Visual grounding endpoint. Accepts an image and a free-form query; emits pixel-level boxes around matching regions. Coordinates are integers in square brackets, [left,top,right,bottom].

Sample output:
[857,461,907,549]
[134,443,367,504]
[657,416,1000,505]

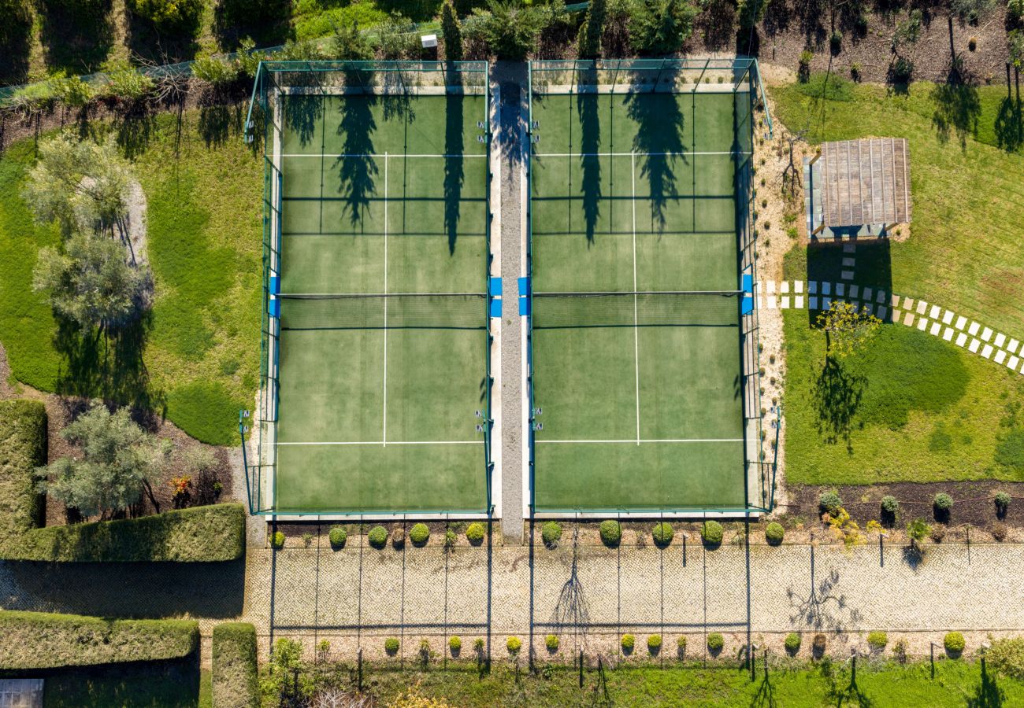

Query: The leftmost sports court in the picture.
[238,55,503,521]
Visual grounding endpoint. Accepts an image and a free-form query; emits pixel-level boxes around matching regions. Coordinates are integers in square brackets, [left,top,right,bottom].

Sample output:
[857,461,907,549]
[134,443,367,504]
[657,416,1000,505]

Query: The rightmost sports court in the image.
[517,54,784,519]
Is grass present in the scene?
Yes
